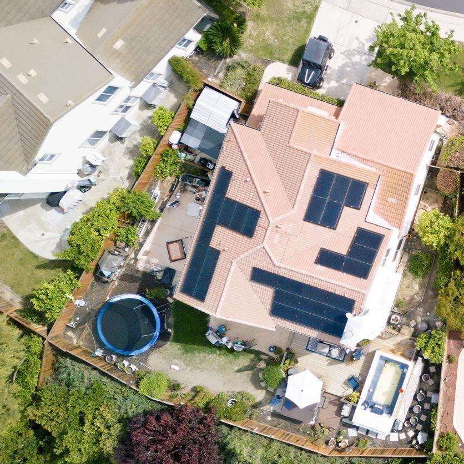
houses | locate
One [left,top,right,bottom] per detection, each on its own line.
[170,80,443,349]
[0,0,214,194]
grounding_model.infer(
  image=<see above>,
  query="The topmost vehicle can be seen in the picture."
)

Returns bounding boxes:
[291,32,330,89]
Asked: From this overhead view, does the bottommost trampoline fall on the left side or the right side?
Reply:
left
